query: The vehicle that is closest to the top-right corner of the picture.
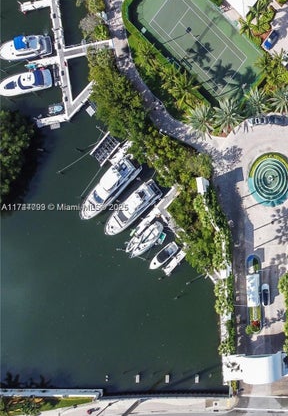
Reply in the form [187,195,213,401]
[262,29,281,52]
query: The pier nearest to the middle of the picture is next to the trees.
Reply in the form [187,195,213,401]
[132,194,189,249]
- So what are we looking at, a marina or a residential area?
marina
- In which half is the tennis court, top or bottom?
top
